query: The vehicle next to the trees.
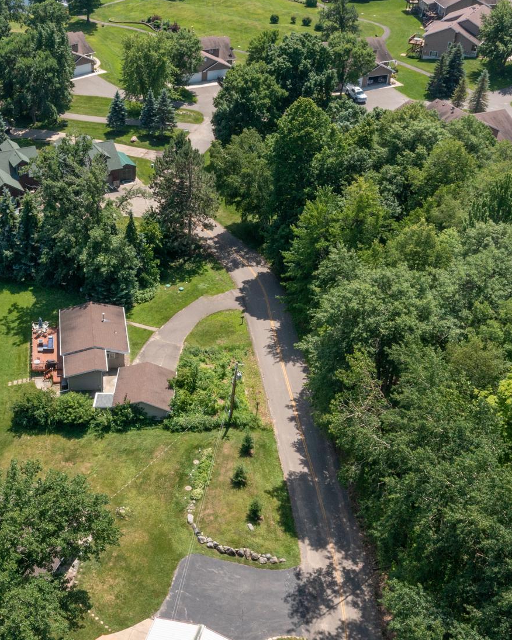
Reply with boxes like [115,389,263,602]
[349,88,364,102]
